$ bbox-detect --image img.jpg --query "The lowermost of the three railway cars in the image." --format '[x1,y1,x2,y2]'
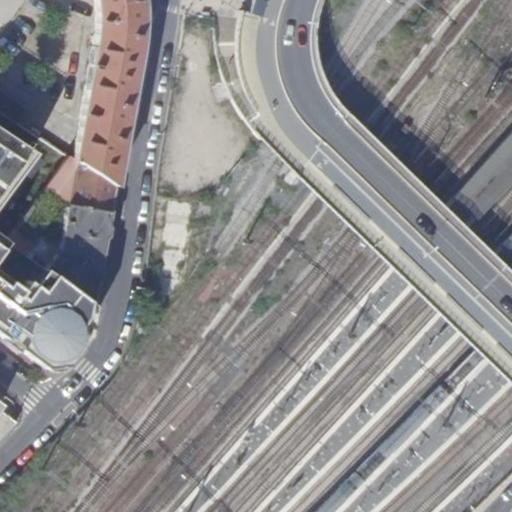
[314,471,364,512]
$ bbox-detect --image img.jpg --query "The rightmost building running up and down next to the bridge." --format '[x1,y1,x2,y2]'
[76,0,150,188]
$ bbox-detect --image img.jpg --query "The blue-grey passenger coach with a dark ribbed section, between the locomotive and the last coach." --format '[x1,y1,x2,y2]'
[357,384,451,479]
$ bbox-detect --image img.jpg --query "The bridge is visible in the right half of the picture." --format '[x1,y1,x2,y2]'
[235,0,512,382]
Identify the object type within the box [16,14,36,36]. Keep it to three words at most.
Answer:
car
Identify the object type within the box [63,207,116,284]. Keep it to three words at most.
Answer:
house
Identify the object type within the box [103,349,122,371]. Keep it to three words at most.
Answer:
car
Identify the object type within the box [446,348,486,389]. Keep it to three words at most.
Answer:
rail car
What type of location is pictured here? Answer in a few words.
rail yard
